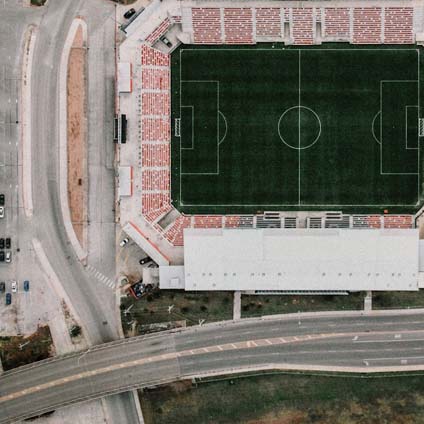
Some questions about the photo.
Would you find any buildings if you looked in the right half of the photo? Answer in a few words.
No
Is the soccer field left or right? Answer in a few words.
right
